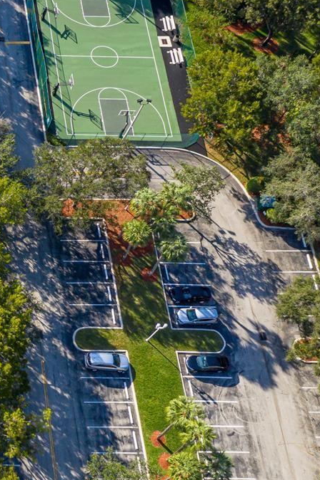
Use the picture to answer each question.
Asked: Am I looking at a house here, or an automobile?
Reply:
automobile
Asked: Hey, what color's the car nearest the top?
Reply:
black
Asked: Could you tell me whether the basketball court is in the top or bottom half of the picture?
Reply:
top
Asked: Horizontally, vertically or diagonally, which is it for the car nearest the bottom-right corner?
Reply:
horizontally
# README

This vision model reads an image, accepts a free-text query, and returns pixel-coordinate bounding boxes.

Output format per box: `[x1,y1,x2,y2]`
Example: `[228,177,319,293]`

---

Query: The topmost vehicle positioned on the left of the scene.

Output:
[86,351,130,372]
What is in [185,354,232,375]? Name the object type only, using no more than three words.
car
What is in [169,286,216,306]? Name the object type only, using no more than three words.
car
